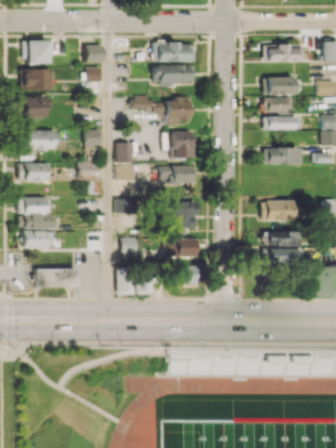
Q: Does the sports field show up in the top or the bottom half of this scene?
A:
bottom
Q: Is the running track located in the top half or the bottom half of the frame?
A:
bottom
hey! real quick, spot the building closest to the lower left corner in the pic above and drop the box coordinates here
[34,268,80,288]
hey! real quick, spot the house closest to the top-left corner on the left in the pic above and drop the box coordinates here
[20,40,54,66]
